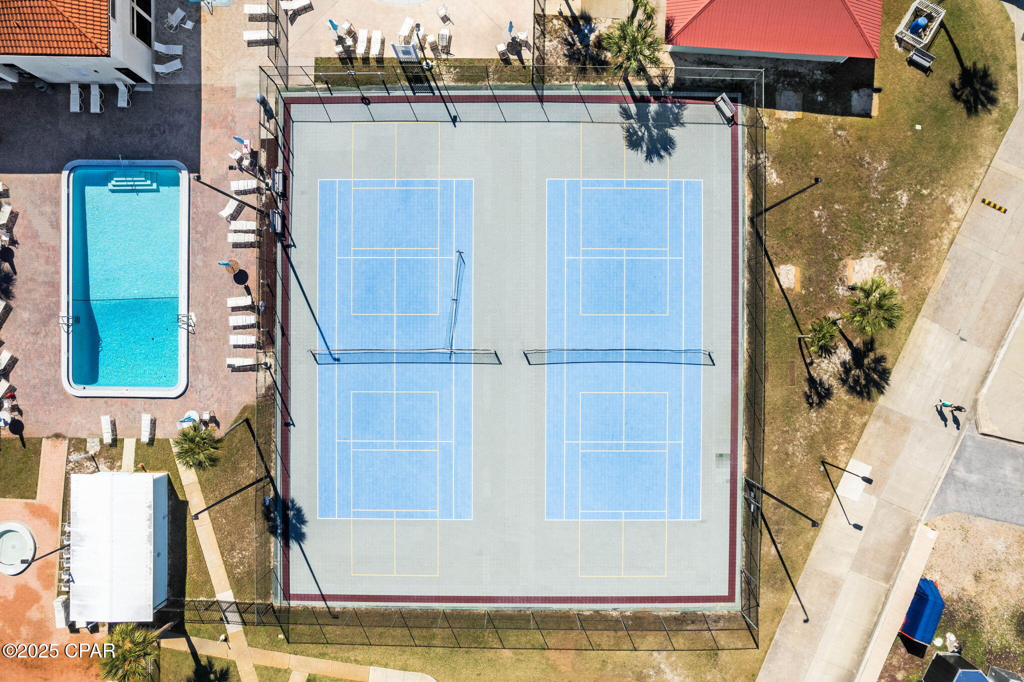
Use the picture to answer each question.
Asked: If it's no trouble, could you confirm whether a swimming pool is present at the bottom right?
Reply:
No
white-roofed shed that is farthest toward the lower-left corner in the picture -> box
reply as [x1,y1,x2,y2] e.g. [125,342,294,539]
[71,472,169,623]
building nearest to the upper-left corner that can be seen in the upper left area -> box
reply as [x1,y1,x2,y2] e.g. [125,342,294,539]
[0,0,156,93]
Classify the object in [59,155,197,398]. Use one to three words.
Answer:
swimming pool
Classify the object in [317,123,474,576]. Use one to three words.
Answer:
tennis court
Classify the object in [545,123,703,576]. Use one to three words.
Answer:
tennis court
